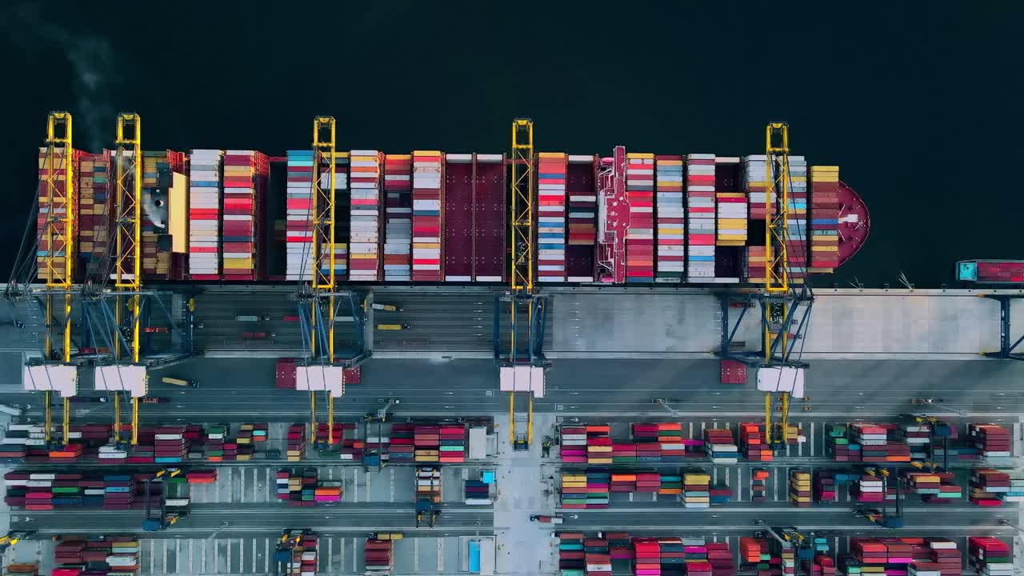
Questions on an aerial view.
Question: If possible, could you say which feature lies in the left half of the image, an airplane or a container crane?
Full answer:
The one visible in the left half of the image is a container crane.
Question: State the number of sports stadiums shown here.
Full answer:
No sports stadiums are visible.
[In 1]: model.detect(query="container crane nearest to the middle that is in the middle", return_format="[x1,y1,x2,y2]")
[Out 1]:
[490,119,551,444]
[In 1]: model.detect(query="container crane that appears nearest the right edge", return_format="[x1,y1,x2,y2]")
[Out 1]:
[972,294,1024,361]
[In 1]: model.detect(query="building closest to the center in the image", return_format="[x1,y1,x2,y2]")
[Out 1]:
[469,427,486,458]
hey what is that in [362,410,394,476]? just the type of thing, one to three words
container crane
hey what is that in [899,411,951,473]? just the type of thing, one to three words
container crane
